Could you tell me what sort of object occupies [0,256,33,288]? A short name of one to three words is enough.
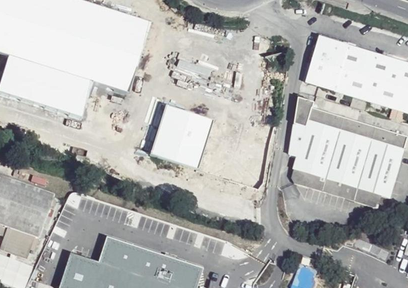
shed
